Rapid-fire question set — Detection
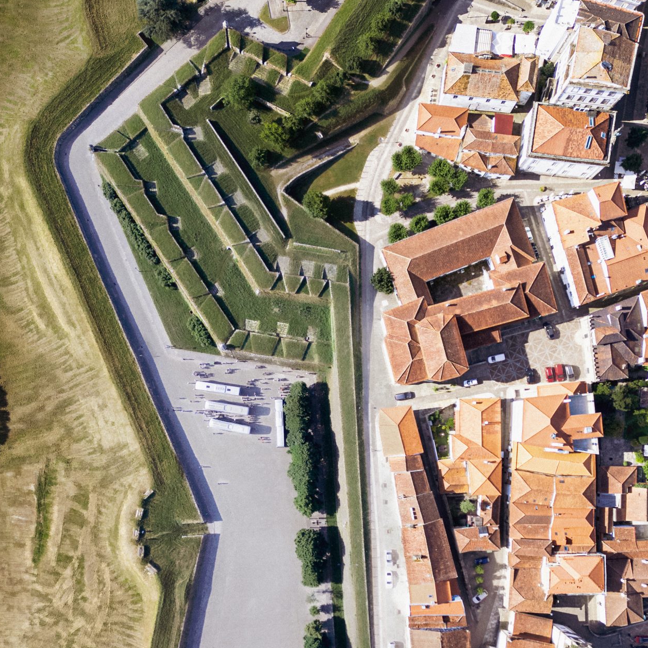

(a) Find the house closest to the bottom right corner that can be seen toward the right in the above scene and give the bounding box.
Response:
[597,591,644,627]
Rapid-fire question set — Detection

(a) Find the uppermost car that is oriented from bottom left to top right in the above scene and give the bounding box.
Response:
[471,589,487,604]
